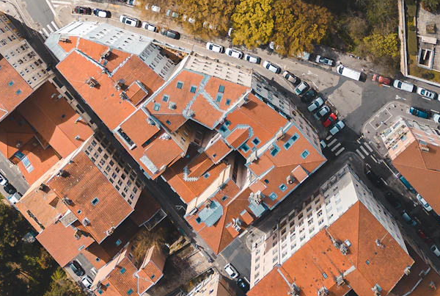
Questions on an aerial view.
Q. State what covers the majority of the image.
buildings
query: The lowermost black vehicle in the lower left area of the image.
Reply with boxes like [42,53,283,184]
[70,259,85,276]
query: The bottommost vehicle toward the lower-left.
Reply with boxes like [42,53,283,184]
[80,273,95,290]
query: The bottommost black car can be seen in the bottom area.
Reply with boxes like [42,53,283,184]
[234,274,250,294]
